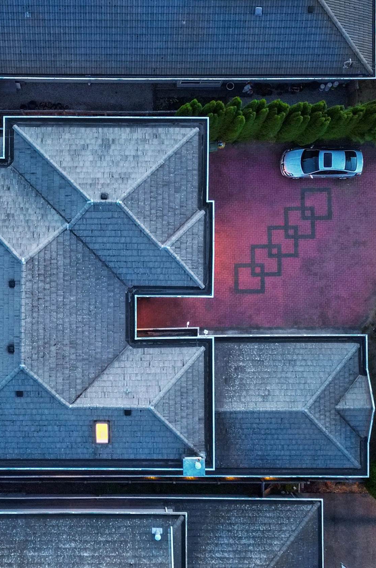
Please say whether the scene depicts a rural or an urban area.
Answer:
urban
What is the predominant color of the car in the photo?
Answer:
blue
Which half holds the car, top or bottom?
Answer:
top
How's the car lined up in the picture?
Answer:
from side to side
